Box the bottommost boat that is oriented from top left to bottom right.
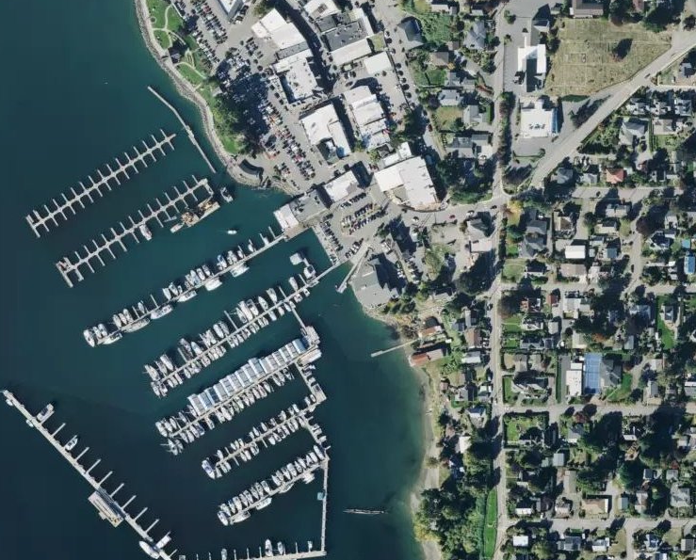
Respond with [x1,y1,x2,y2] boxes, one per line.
[140,542,162,560]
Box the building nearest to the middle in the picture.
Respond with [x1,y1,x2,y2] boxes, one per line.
[346,259,398,309]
